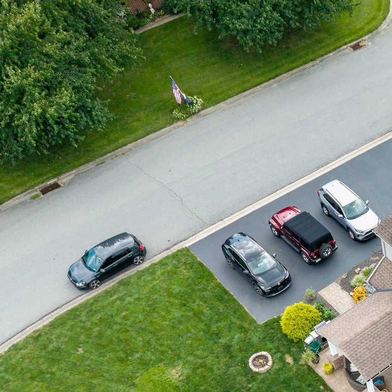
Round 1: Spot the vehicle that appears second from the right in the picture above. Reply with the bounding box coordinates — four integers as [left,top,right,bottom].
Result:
[267,205,340,265]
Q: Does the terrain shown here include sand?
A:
No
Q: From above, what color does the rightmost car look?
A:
white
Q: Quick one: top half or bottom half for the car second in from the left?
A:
bottom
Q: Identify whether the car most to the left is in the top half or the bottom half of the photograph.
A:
bottom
